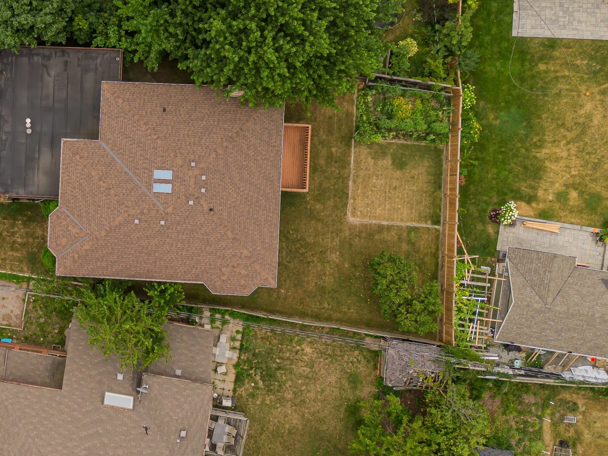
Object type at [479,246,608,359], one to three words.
house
